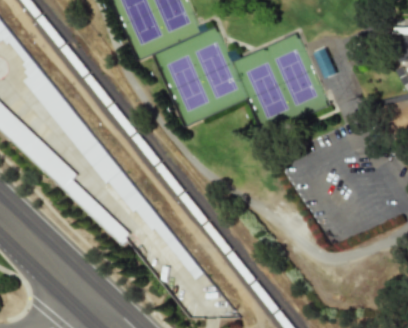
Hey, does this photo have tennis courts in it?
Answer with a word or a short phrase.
Yes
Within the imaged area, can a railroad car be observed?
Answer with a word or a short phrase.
Yes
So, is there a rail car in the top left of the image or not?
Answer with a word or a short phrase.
Yes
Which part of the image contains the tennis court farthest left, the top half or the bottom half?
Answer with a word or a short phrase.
top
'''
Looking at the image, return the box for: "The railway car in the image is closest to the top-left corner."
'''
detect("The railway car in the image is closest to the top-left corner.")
[20,0,41,18]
